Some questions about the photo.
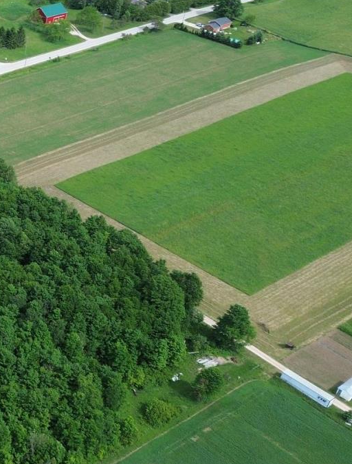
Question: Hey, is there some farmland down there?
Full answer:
Yes, farmland shows up in the scene.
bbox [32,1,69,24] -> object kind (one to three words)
barn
